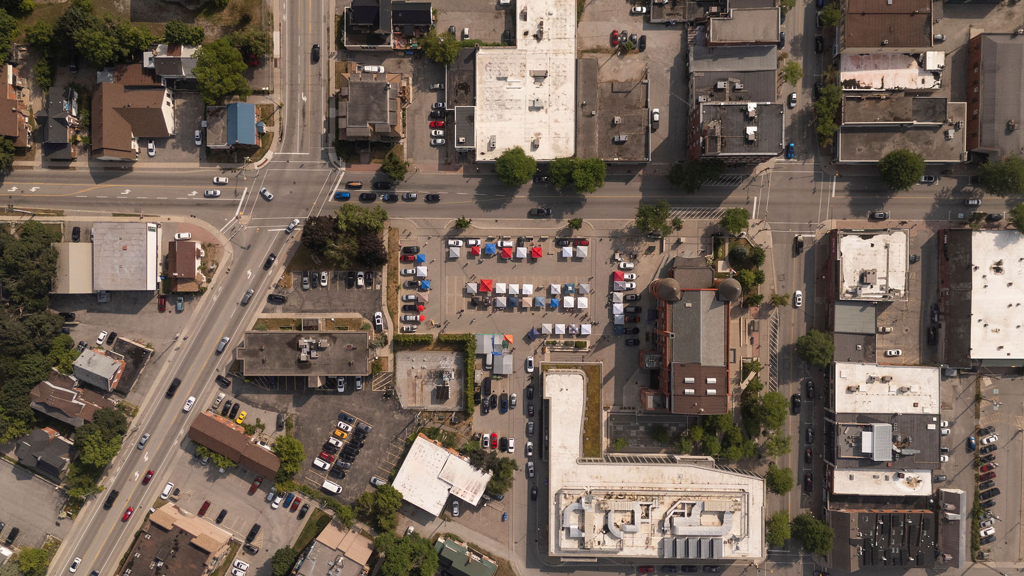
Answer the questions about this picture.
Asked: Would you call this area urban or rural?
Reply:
urban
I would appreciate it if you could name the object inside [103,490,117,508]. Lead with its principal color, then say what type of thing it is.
black vehicle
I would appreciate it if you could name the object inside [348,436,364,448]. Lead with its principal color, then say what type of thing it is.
black vehicle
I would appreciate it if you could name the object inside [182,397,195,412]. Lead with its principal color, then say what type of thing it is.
white vehicle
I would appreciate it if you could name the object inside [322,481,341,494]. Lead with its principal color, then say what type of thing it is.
white vehicle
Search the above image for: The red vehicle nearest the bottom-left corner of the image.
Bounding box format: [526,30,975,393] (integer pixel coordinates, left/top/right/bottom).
[121,507,133,522]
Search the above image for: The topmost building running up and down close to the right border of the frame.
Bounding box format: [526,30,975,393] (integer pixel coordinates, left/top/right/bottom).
[964,28,1024,167]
